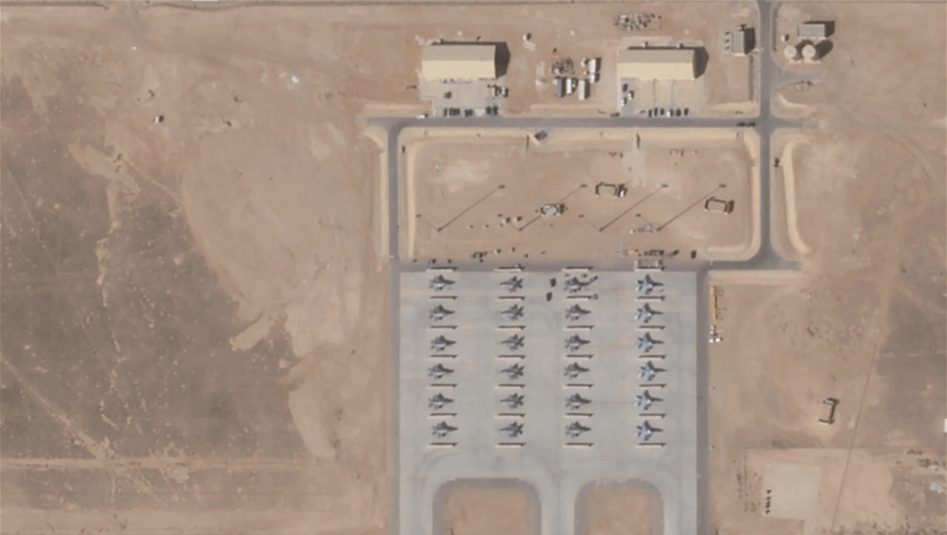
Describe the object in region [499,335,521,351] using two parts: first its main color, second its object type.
gray airplane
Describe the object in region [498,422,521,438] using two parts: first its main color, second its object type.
gray airplane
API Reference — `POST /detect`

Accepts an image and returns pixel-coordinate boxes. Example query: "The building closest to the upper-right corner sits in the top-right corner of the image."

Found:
[799,24,828,42]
